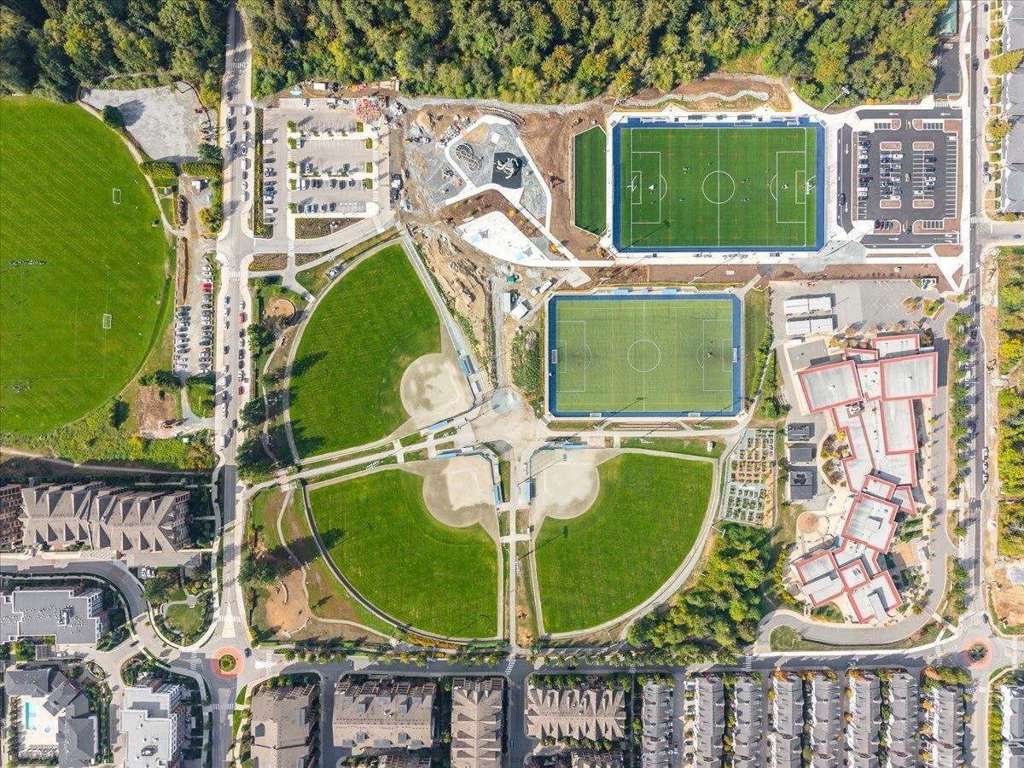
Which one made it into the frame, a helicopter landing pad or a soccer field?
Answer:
soccer field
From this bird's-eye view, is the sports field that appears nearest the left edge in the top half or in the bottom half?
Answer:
top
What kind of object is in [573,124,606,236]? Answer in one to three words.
sports field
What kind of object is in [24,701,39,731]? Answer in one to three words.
swimming pool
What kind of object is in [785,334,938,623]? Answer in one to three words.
building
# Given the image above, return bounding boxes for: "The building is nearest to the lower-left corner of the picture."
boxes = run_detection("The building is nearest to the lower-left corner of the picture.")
[6,666,99,768]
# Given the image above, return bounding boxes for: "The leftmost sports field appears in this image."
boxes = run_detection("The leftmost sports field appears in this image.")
[0,96,169,437]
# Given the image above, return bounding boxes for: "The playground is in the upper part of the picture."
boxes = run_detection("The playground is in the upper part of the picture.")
[492,152,522,188]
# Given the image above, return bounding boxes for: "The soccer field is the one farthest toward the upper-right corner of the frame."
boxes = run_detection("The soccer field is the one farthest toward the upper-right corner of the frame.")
[613,118,826,252]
